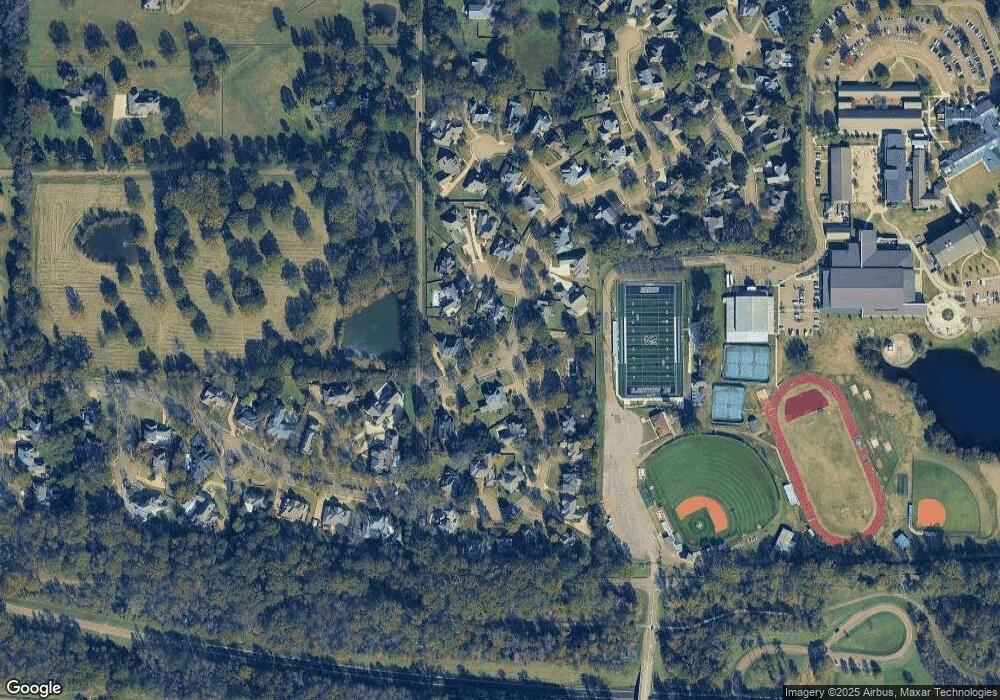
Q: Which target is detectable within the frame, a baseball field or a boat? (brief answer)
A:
baseball field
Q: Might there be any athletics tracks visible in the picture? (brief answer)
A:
Yes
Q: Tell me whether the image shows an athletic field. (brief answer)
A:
Yes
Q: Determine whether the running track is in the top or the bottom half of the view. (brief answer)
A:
bottom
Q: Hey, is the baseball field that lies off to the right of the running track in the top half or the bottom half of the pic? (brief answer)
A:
bottom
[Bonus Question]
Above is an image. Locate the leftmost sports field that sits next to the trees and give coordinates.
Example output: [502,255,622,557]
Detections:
[616,281,683,399]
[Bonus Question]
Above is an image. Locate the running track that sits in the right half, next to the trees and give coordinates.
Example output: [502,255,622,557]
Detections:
[766,373,887,546]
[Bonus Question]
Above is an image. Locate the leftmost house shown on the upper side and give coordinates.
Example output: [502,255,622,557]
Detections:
[61,90,90,110]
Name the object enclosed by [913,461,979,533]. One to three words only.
baseball field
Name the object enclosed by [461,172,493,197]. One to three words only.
house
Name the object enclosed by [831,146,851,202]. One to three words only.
building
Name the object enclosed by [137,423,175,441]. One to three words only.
house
